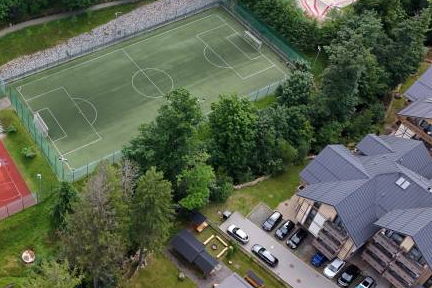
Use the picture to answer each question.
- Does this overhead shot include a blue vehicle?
Yes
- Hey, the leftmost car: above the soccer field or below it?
below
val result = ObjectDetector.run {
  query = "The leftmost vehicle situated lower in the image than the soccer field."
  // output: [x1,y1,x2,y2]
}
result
[225,223,253,244]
